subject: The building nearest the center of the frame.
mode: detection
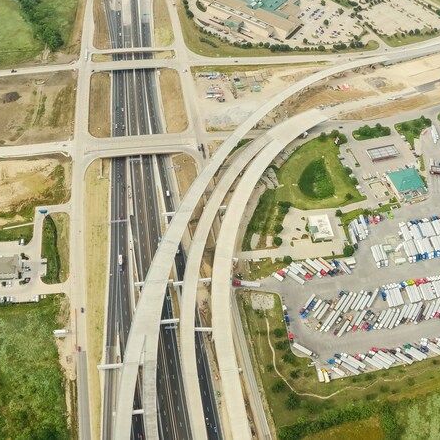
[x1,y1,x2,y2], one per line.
[307,214,334,241]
